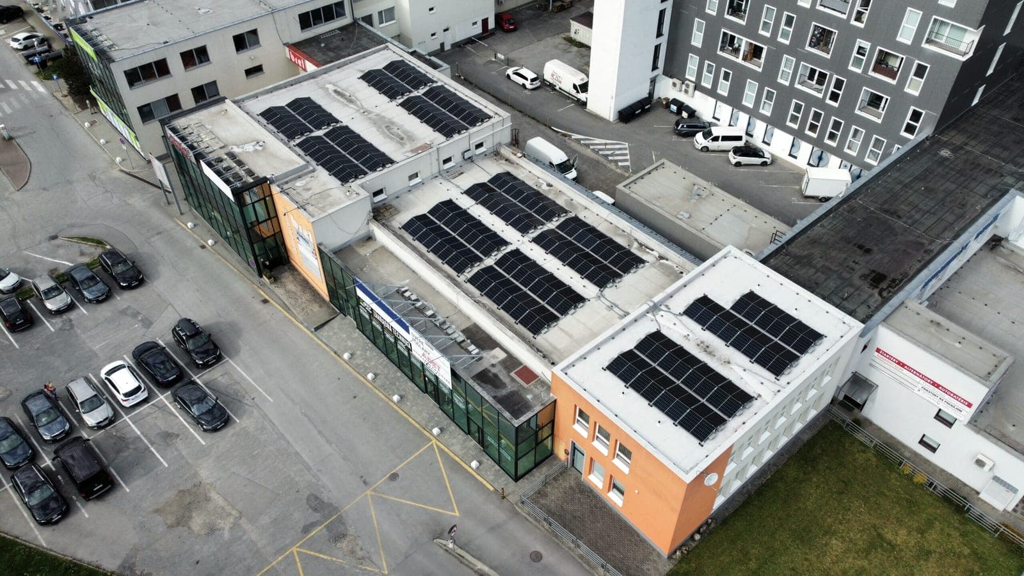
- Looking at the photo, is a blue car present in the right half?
No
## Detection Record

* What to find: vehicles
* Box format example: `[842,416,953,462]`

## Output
[59,266,106,306]
[694,127,747,152]
[0,295,32,333]
[12,31,54,50]
[498,10,517,32]
[6,466,65,528]
[524,136,583,183]
[16,392,70,444]
[543,59,589,101]
[0,419,32,473]
[98,363,149,409]
[0,260,28,293]
[168,320,218,369]
[728,146,772,167]
[169,384,225,435]
[61,378,114,431]
[673,117,718,138]
[55,440,114,505]
[505,67,543,90]
[128,345,180,389]
[22,277,69,316]
[91,254,140,293]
